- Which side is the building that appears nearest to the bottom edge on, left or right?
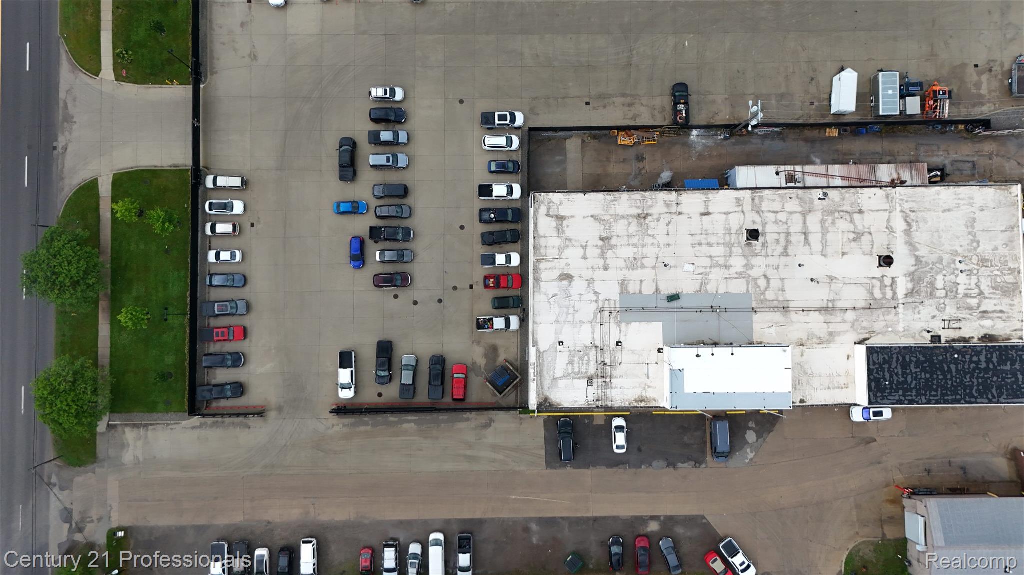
right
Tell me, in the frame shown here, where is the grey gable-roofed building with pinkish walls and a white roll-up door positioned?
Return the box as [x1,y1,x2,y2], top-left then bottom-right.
[903,494,1024,575]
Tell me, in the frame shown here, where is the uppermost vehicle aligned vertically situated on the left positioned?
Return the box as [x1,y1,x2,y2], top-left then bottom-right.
[337,137,357,184]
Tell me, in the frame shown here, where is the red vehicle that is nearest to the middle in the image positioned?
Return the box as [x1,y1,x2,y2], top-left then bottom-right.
[483,272,523,291]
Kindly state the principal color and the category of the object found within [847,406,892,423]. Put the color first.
white car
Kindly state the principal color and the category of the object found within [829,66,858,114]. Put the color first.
white trailer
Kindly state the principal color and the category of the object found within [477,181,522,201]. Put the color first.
white vehicle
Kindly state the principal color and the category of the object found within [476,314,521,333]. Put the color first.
white vehicle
